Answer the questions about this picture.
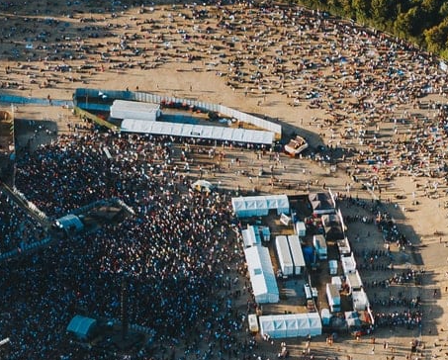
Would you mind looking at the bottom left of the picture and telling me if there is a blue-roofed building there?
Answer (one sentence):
Yes, the scene does show a blue-roofed building at the bottom left of the picture.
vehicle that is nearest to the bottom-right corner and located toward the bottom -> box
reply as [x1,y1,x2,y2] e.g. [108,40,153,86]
[326,282,341,316]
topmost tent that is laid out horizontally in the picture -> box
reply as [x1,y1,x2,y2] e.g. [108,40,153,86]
[122,120,273,156]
